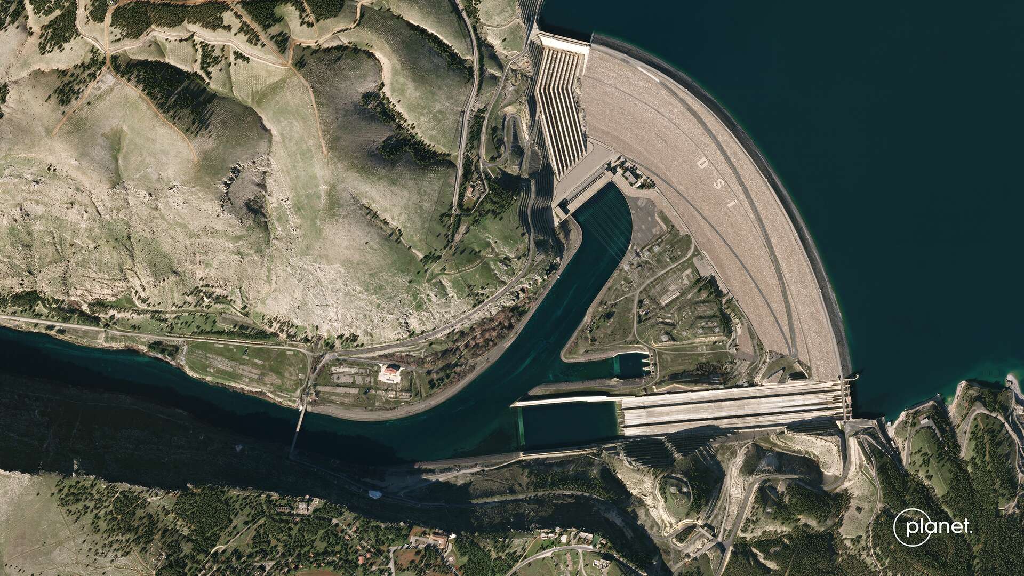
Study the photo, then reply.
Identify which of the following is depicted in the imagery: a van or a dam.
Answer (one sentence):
Visible in the photo is a dam.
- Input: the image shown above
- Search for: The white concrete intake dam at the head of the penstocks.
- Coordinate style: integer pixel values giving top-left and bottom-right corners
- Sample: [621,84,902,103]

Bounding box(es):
[538,31,594,76]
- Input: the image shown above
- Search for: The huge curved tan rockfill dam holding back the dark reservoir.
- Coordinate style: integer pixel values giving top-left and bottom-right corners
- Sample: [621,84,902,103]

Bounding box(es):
[581,31,855,380]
